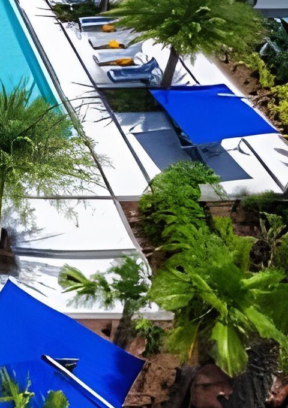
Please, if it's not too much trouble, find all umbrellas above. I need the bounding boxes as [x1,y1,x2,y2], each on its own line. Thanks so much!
[150,83,278,167]
[0,278,144,408]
